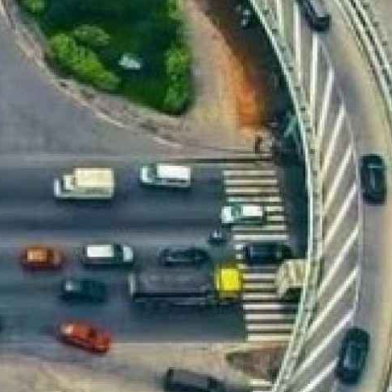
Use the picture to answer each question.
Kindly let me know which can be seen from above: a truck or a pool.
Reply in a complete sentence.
The image shows a truck.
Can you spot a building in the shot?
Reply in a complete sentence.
No, there is no building in the image.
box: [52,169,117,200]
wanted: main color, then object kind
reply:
white truck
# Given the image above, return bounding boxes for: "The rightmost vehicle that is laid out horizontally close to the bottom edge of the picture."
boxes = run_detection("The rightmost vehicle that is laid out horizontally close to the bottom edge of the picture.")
[165,367,223,392]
